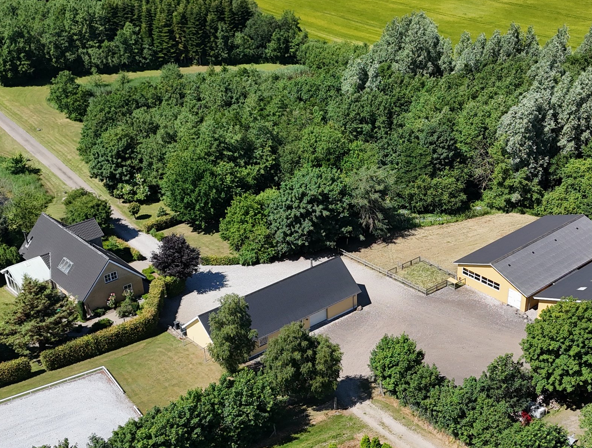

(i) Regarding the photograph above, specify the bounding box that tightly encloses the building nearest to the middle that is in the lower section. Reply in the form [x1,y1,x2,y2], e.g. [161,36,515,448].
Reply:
[181,255,362,368]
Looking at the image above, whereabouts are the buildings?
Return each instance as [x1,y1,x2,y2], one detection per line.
[181,255,362,368]
[0,216,147,321]
[452,211,592,310]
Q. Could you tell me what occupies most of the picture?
trees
